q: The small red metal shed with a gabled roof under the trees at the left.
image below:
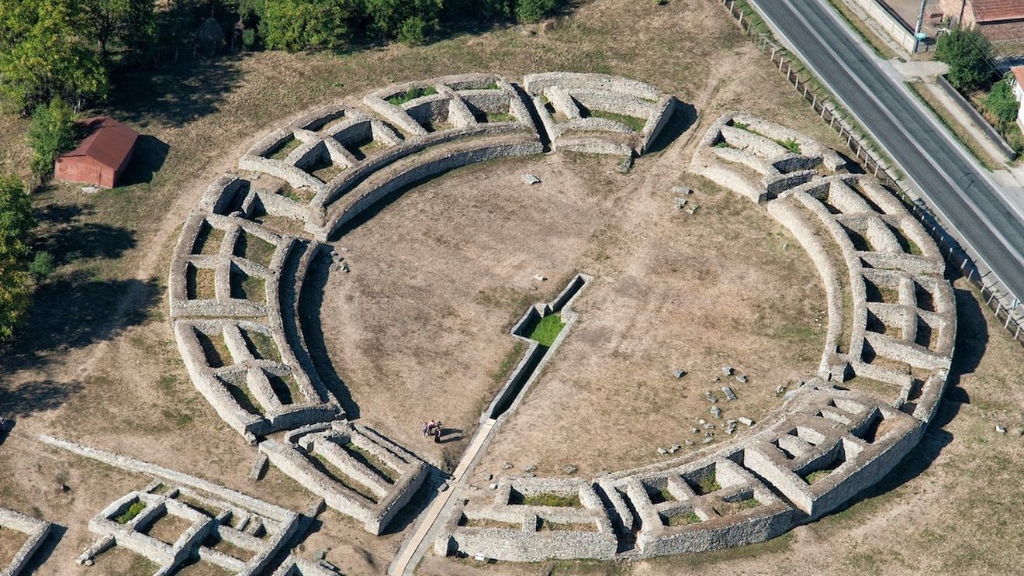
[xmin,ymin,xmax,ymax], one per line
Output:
[55,119,134,187]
